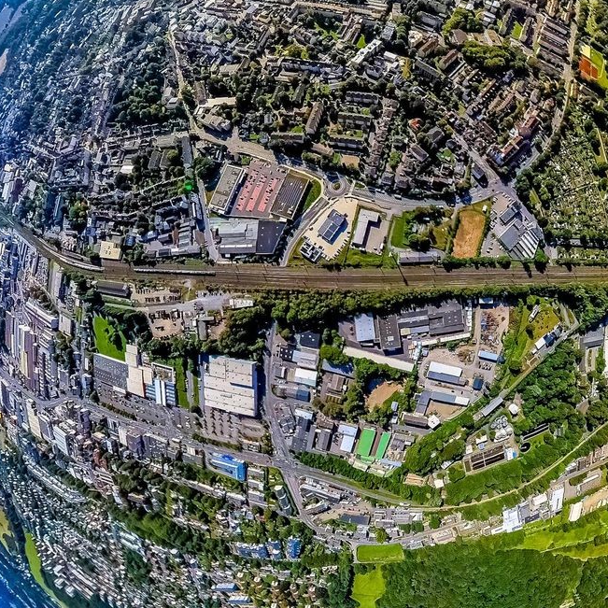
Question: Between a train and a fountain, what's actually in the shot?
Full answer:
Of the two, only a train appears.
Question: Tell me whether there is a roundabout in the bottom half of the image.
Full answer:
No, I see no roundabout in the bottom half of the image.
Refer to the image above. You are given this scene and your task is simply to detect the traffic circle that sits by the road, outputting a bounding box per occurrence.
[321,172,352,200]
